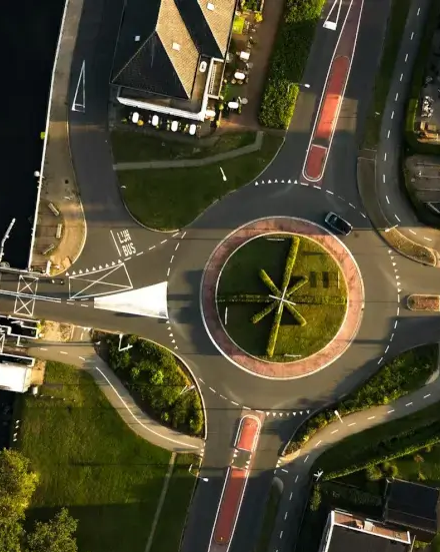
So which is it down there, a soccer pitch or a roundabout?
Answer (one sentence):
Of the two, only a roundabout appears.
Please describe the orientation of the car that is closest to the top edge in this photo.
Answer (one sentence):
The car that is closest to the top edge runs on a diagonal in the image.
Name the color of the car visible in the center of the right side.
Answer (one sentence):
The color of the car visible in the center of the right side is black.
